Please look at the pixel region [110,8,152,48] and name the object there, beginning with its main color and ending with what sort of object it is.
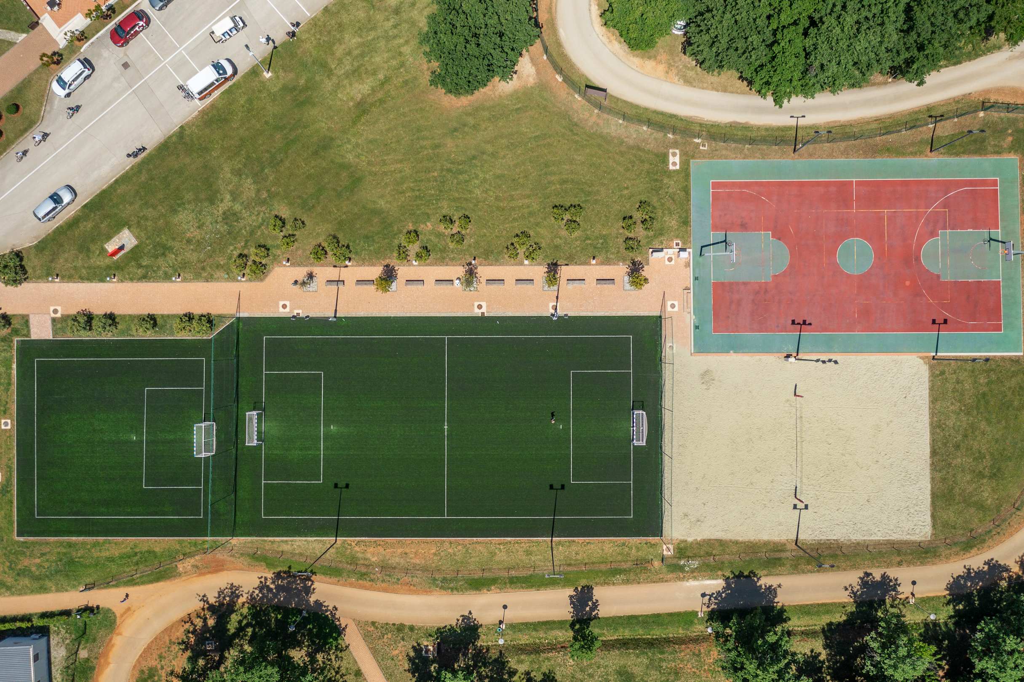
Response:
red car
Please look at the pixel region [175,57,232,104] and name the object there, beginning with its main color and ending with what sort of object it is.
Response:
white van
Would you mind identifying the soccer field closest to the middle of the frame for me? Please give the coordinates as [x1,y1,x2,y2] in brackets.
[233,317,662,539]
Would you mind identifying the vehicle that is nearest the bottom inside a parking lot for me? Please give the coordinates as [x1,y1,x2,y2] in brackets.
[33,184,81,223]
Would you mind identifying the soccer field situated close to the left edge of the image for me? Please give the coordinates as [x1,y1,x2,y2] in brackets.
[14,317,237,540]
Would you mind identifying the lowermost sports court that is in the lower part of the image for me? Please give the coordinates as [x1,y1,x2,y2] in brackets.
[661,347,932,540]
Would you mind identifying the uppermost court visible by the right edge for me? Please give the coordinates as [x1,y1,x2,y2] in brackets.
[690,157,1024,356]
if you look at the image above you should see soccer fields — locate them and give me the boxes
[233,317,662,539]
[14,317,237,540]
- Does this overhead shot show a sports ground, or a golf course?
sports ground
